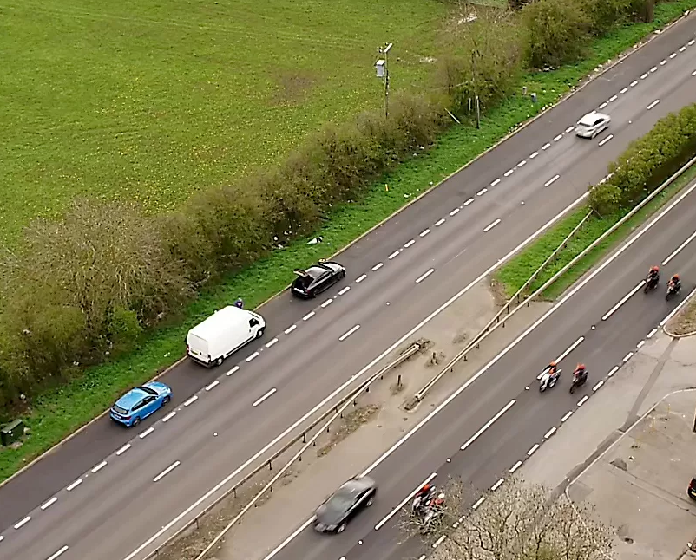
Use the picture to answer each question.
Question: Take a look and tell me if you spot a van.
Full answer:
Yes, I can see a van in this picture.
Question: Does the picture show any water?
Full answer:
No, the picture contains no water.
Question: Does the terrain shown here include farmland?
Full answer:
Yes, farmland can be seen from above here.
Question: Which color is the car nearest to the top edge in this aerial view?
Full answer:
The car nearest to the top edge looks white in the image.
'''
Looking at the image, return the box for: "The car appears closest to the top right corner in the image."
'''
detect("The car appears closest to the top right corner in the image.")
[576,110,615,135]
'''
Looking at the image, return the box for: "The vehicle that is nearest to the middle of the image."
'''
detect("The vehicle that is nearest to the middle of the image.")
[296,255,351,290]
